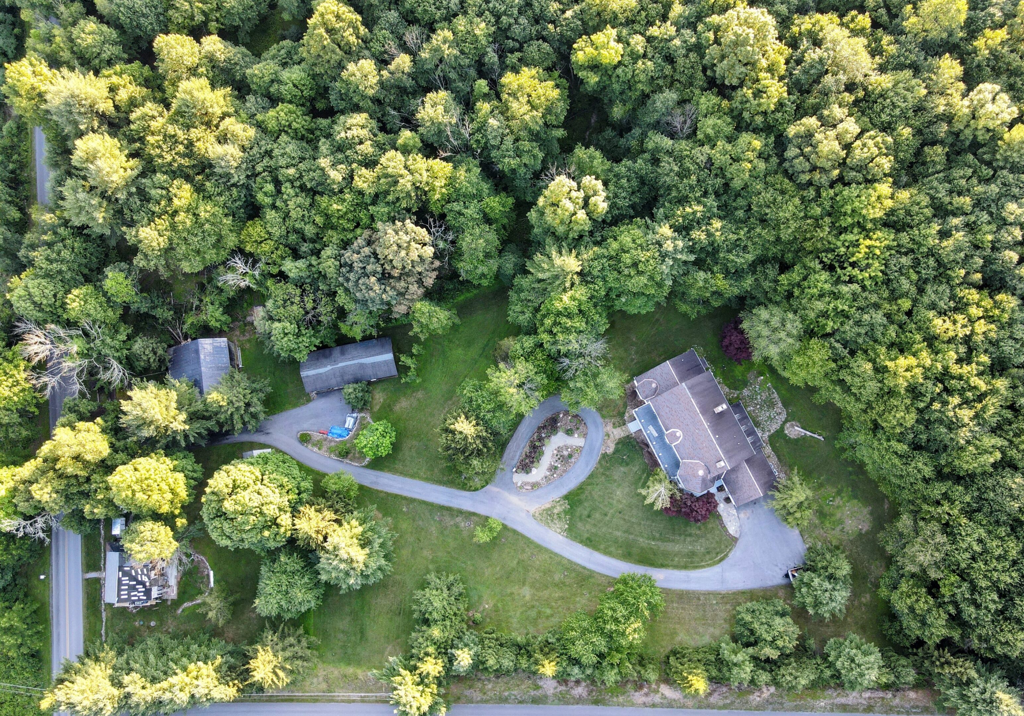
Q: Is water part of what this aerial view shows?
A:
No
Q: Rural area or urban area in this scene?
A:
rural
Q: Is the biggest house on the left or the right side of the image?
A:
right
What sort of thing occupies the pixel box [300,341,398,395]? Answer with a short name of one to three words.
shed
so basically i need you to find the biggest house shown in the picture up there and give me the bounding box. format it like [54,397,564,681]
[627,348,776,507]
